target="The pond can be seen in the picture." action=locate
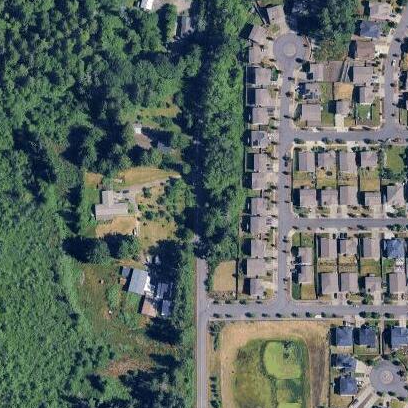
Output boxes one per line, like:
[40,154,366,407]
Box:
[264,346,303,408]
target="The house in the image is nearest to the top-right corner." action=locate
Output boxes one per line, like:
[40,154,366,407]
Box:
[370,3,392,20]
